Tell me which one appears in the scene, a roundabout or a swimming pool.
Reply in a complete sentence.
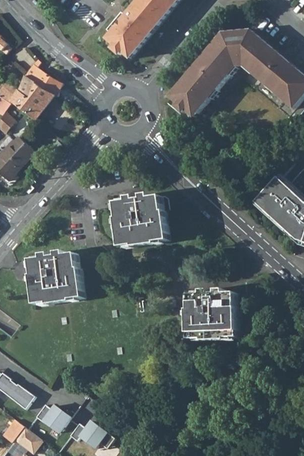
The one in the frame is a roundabout.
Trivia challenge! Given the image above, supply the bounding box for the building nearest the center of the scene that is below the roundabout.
[108,192,170,251]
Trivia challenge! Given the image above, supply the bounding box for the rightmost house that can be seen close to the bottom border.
[78,420,108,449]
